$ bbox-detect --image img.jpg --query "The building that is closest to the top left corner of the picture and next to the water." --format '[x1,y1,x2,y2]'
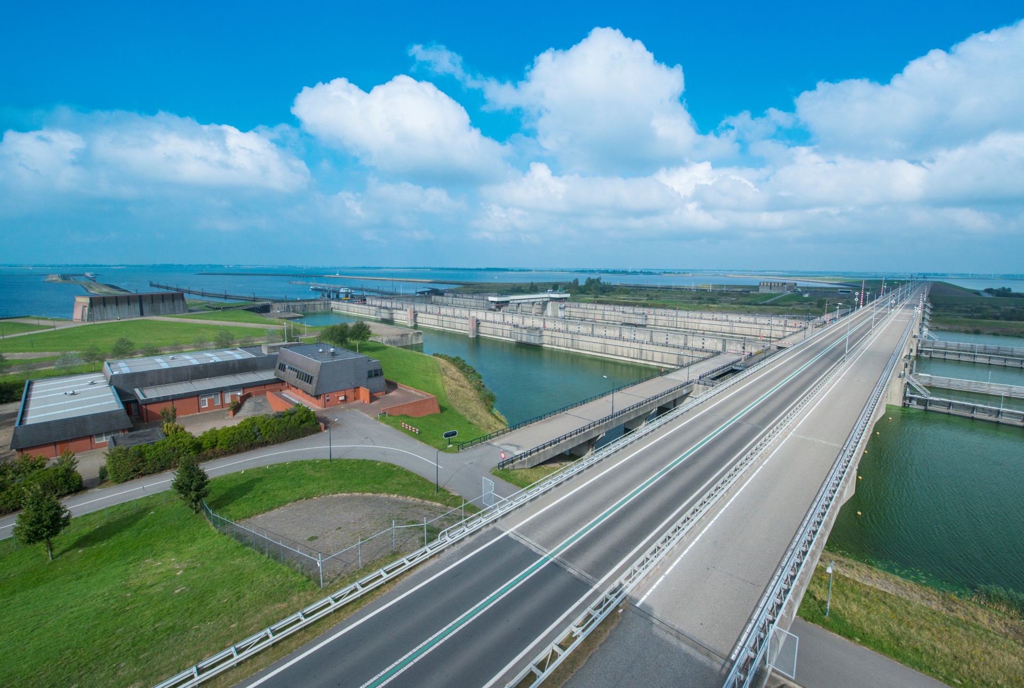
[73,292,187,321]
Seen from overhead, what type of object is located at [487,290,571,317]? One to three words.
building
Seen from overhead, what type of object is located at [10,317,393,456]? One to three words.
building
